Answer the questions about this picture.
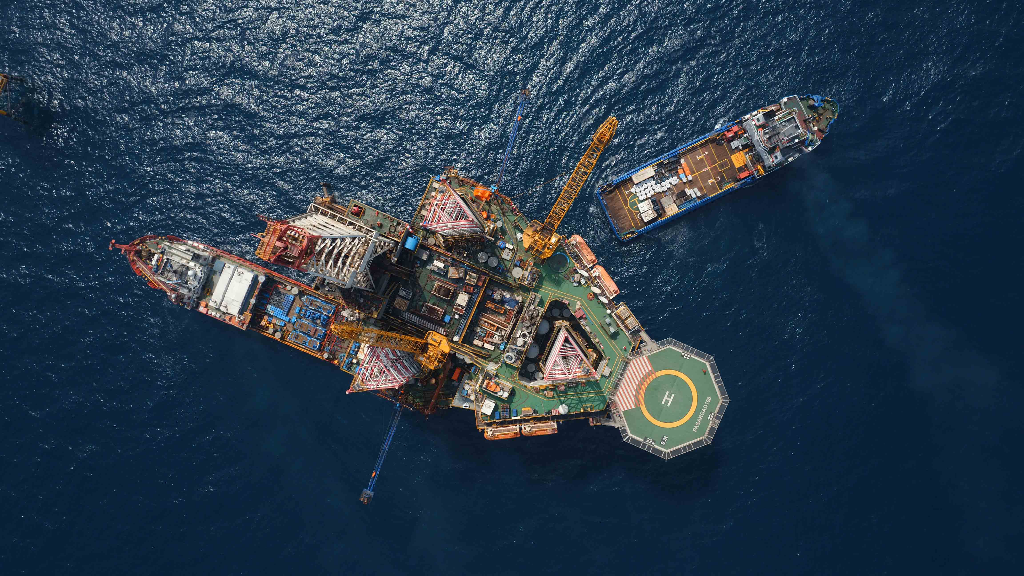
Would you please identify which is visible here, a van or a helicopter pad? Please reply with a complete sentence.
I can see a helicopter pad in this picture.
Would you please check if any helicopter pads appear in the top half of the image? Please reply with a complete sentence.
No, no helicopter pad appears in the top half of the image.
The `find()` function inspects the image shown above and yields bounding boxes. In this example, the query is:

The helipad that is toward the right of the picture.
[601,331,731,460]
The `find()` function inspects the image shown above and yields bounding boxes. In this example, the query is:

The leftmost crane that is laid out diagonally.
[522,115,618,263]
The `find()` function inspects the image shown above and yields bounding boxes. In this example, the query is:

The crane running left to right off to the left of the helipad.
[311,321,452,377]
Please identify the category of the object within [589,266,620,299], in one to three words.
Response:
boat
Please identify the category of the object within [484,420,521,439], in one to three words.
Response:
boat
